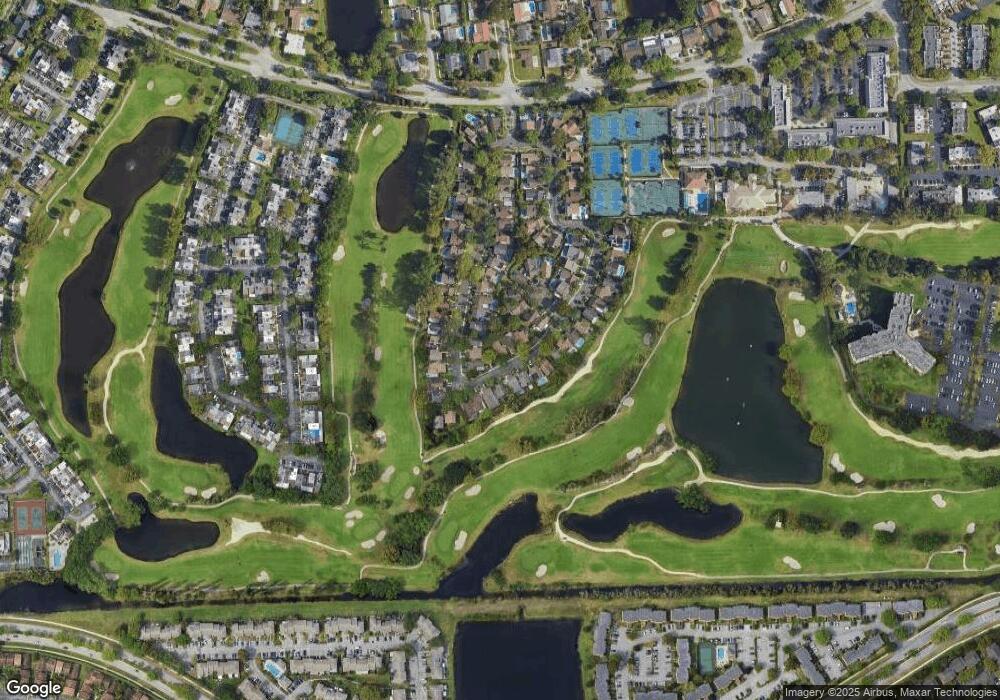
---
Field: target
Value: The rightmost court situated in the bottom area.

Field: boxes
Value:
[698,643,714,674]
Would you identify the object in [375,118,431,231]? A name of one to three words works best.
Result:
pond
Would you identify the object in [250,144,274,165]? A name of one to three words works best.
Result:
swimming pool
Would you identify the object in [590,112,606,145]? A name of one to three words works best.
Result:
tennis court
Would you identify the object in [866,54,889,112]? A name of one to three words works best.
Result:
building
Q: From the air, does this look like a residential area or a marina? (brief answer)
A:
residential area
